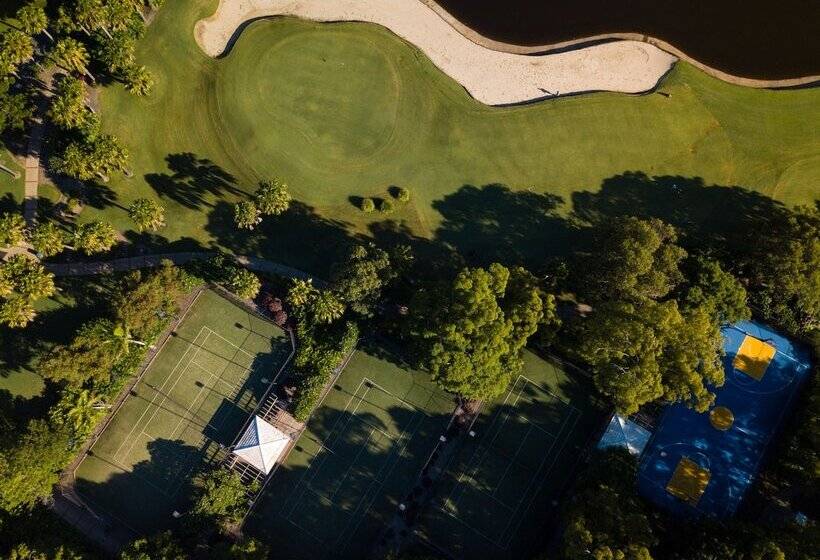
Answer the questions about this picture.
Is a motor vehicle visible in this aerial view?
No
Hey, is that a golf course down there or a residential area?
golf course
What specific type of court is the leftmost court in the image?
tennis court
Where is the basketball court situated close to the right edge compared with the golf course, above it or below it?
below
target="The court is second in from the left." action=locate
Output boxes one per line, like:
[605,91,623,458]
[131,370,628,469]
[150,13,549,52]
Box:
[239,337,458,560]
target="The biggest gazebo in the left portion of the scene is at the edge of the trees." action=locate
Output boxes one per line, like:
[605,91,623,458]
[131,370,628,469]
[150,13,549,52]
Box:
[232,416,291,475]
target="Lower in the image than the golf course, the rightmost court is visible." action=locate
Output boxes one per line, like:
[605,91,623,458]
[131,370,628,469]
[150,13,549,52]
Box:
[629,304,818,538]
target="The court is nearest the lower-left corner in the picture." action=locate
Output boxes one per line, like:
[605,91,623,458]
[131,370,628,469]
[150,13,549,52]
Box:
[71,288,296,551]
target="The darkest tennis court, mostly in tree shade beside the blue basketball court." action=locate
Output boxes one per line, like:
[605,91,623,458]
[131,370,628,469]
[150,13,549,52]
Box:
[406,341,603,560]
